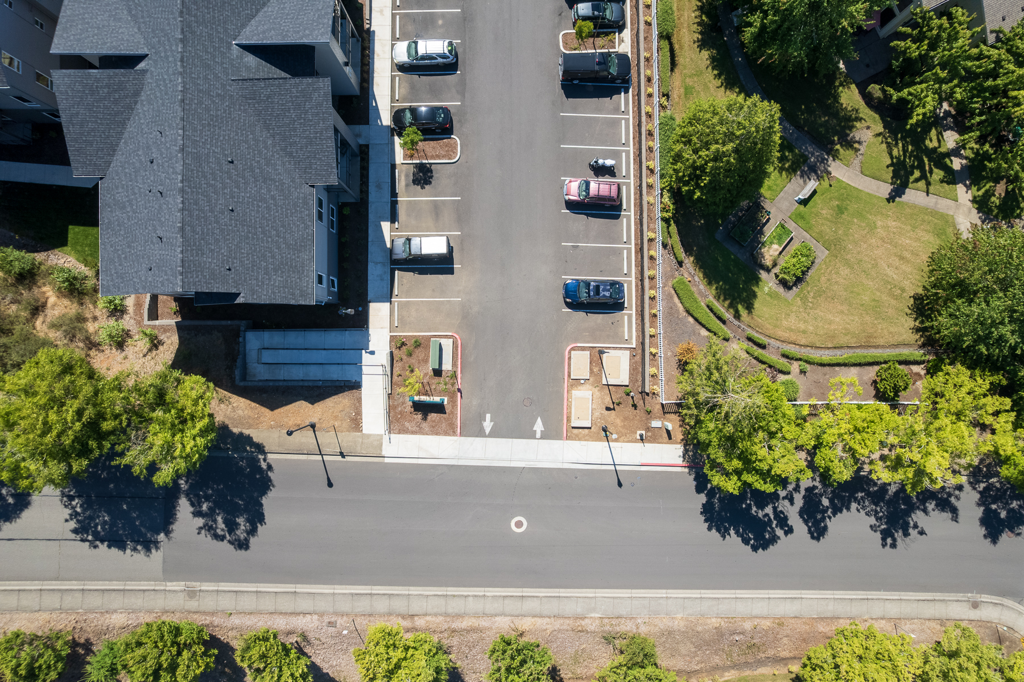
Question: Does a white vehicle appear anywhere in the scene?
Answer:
Yes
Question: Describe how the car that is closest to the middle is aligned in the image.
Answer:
from side to side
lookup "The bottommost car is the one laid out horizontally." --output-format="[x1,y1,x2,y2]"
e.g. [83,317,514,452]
[562,277,624,305]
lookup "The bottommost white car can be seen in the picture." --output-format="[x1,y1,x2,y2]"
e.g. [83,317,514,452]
[389,234,453,262]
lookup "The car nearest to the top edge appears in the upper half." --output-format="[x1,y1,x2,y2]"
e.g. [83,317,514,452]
[571,0,625,29]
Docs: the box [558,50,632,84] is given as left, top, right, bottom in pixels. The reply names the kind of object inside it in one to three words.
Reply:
truck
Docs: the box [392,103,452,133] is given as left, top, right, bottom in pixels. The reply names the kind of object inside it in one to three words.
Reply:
car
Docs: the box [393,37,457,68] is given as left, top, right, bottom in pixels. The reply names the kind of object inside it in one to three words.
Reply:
car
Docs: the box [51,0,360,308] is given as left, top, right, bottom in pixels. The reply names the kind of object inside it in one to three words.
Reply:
building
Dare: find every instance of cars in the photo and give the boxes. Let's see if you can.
[562,277,624,305]
[393,37,457,68]
[561,176,622,206]
[392,103,452,133]
[389,234,453,262]
[571,0,625,29]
